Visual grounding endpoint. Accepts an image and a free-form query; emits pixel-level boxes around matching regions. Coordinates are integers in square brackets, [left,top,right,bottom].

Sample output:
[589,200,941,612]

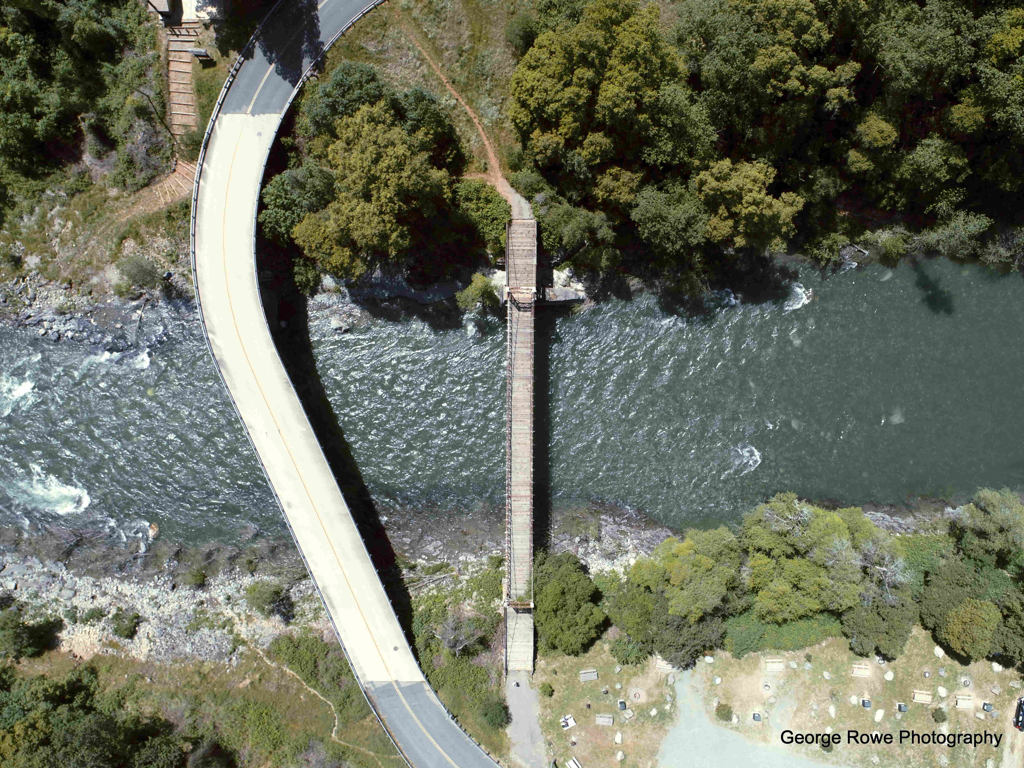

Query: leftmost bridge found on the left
[190,87,440,702]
